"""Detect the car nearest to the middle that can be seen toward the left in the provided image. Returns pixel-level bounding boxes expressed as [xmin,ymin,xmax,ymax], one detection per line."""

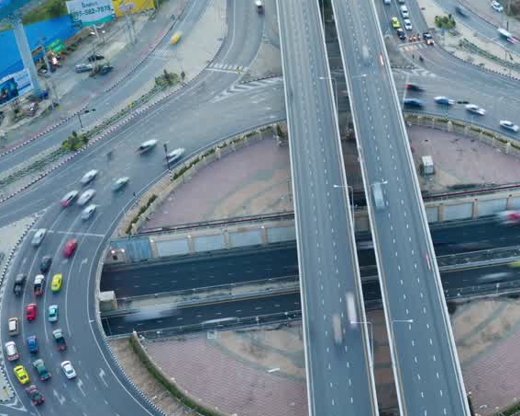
[164,149,186,163]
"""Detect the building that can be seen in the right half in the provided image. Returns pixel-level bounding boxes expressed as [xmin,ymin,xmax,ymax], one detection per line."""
[419,152,435,174]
